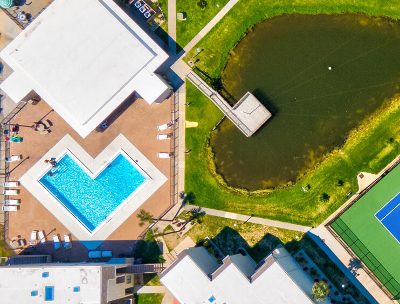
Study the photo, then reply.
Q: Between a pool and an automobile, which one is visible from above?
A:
pool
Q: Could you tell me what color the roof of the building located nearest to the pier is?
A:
white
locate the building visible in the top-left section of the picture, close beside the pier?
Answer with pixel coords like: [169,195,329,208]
[0,0,171,139]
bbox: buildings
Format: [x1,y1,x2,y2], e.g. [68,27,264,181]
[0,0,171,139]
[159,245,335,304]
[0,261,143,304]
